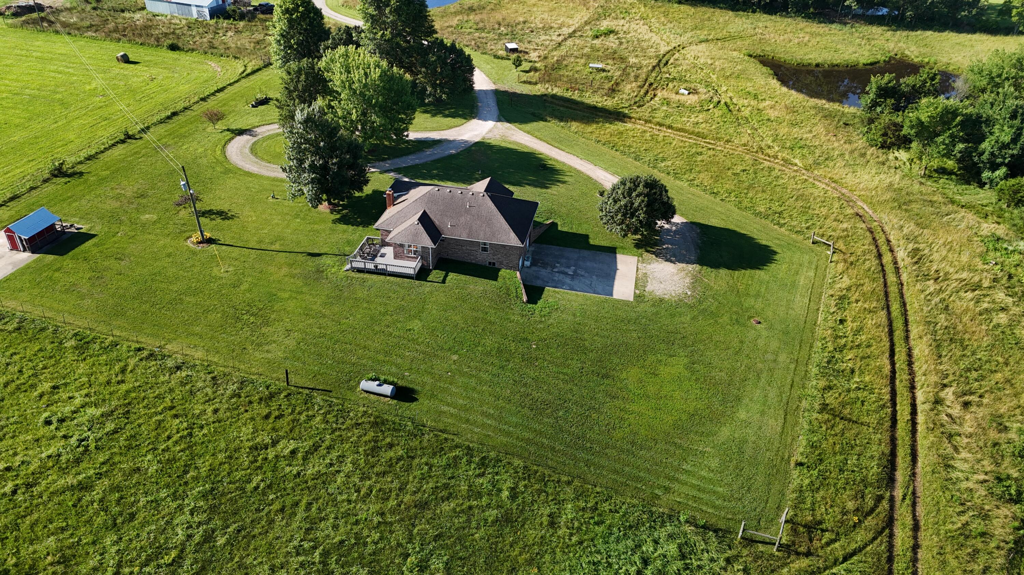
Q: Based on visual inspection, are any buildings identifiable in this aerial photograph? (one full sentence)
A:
Yes, you can see a building in this photo.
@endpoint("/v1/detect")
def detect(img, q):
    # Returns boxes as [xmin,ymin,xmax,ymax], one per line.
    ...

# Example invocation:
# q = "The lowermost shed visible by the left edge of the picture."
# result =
[1,206,66,252]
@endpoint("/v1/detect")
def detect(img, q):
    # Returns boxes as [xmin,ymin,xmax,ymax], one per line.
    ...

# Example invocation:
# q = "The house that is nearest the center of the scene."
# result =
[373,176,541,269]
